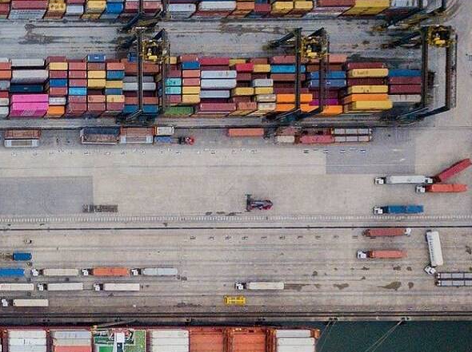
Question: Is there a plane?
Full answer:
No, no plane is visible in the view.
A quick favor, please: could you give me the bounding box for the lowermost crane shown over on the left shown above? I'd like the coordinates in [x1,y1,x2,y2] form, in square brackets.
[119,28,169,122]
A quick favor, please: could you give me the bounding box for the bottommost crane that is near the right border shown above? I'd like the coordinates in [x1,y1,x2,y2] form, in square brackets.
[391,27,453,120]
